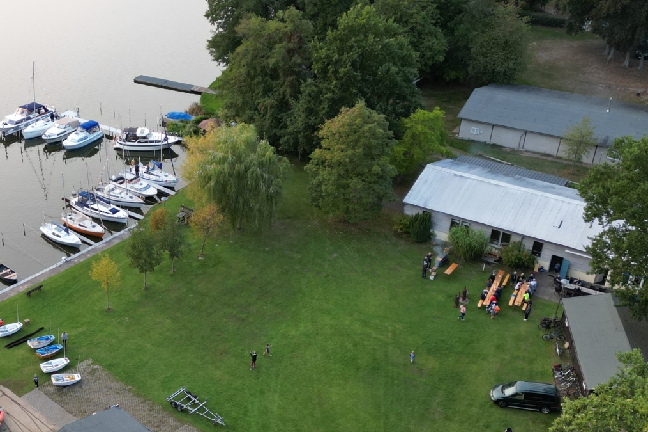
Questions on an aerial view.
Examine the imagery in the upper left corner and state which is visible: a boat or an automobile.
boat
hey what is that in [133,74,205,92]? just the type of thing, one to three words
pier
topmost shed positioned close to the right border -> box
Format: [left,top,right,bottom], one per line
[454,84,648,168]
